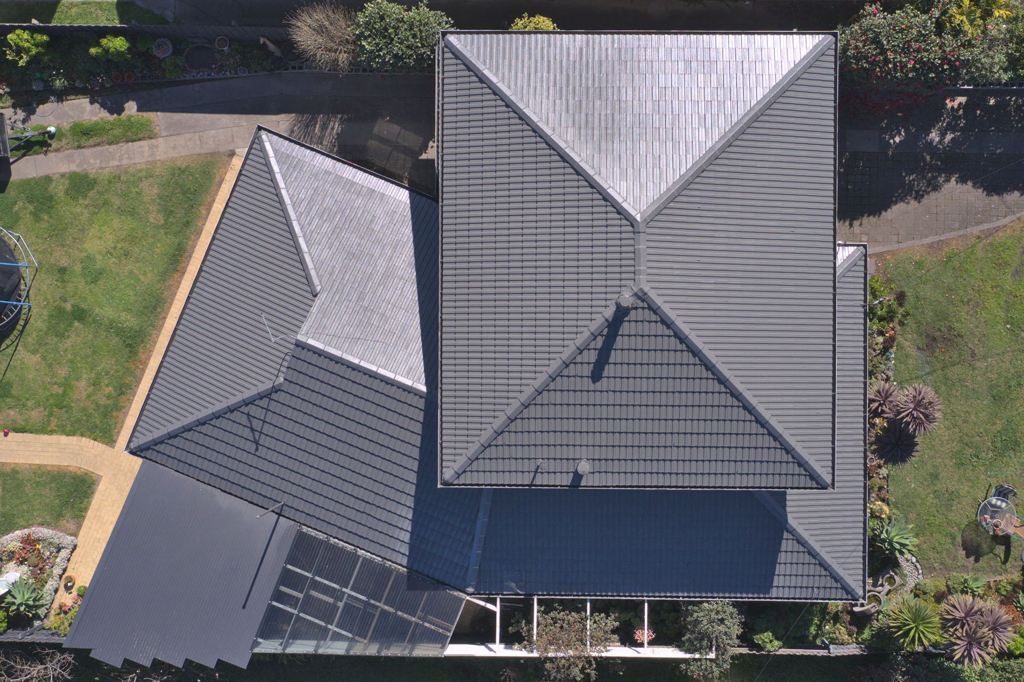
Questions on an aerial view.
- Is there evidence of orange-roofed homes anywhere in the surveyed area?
No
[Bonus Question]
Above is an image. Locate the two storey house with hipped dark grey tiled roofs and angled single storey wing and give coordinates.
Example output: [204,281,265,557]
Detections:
[125,31,868,602]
